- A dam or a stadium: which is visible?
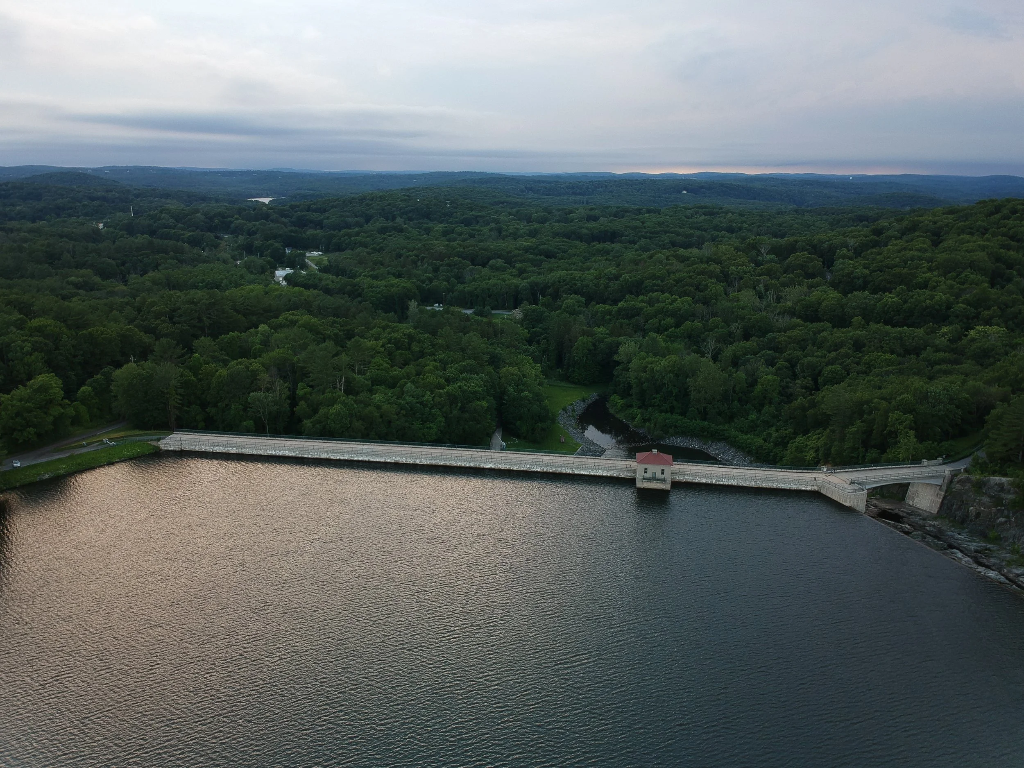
dam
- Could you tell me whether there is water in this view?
Yes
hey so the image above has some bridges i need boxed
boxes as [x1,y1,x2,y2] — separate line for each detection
[823,457,967,487]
